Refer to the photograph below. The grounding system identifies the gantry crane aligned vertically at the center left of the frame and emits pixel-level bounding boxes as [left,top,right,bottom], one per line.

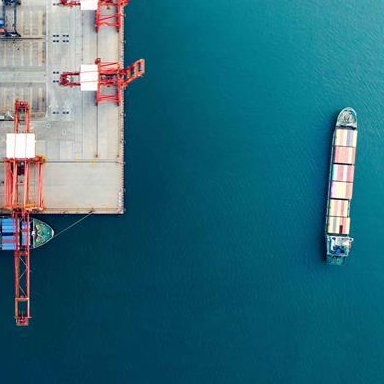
[5,102,47,327]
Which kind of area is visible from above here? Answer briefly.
port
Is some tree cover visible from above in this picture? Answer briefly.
No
